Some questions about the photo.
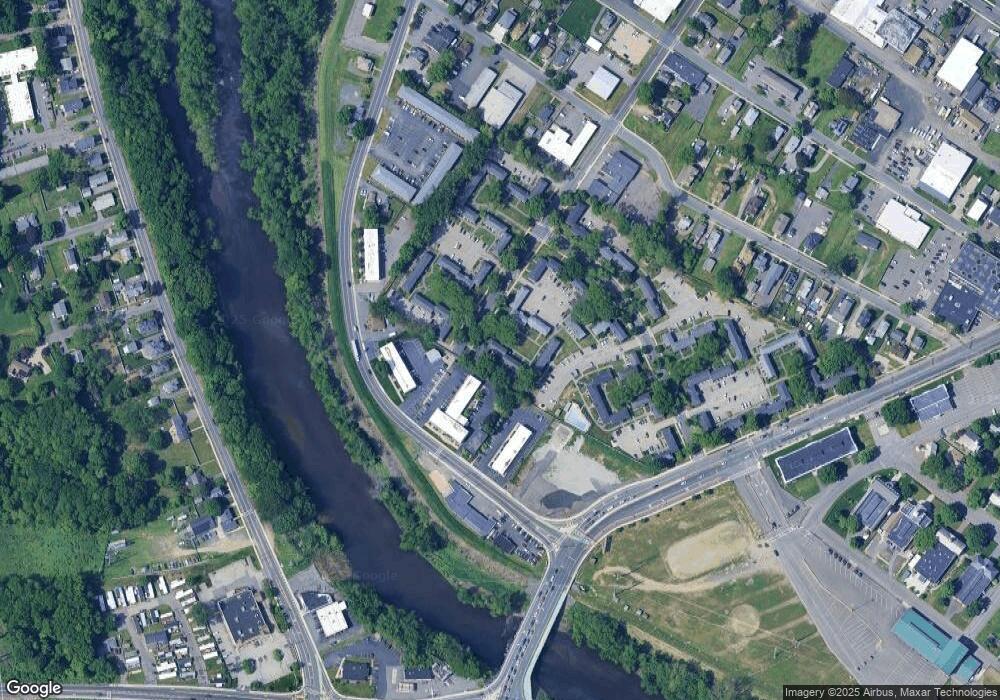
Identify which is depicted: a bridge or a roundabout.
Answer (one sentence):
Looking from above, you can make out a bridge.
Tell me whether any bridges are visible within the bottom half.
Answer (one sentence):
Yes, looking within the bottom half, one can make out a bridge.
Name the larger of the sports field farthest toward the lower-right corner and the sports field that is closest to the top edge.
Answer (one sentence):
Compared with the sports field farthest toward the lower-right corner, the sports field that is closest to the top edge is the larger one.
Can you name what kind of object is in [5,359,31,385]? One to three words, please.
house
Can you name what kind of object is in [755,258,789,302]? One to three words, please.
shed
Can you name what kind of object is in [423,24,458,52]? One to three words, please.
building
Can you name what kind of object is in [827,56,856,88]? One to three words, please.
barn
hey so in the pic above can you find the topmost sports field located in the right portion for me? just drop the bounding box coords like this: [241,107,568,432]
[664,517,756,582]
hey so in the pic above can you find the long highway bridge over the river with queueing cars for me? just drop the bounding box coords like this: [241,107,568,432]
[497,580,568,691]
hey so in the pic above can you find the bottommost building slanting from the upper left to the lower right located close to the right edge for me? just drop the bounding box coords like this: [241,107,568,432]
[894,607,971,680]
